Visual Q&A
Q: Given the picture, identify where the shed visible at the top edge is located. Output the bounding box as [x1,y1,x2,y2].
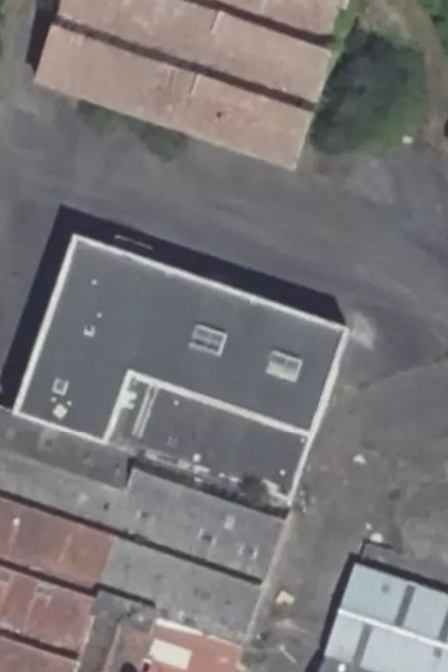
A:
[33,0,350,171]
